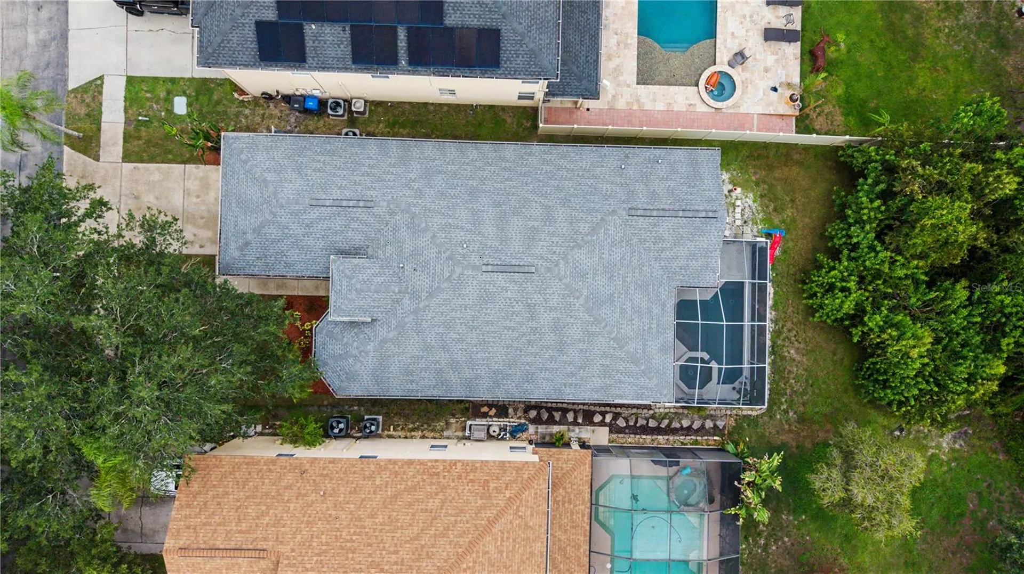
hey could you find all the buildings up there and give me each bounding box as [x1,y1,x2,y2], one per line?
[217,130,727,406]
[162,437,592,574]
[188,0,609,109]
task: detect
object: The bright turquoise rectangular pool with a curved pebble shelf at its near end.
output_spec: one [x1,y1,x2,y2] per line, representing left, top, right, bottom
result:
[636,0,718,86]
